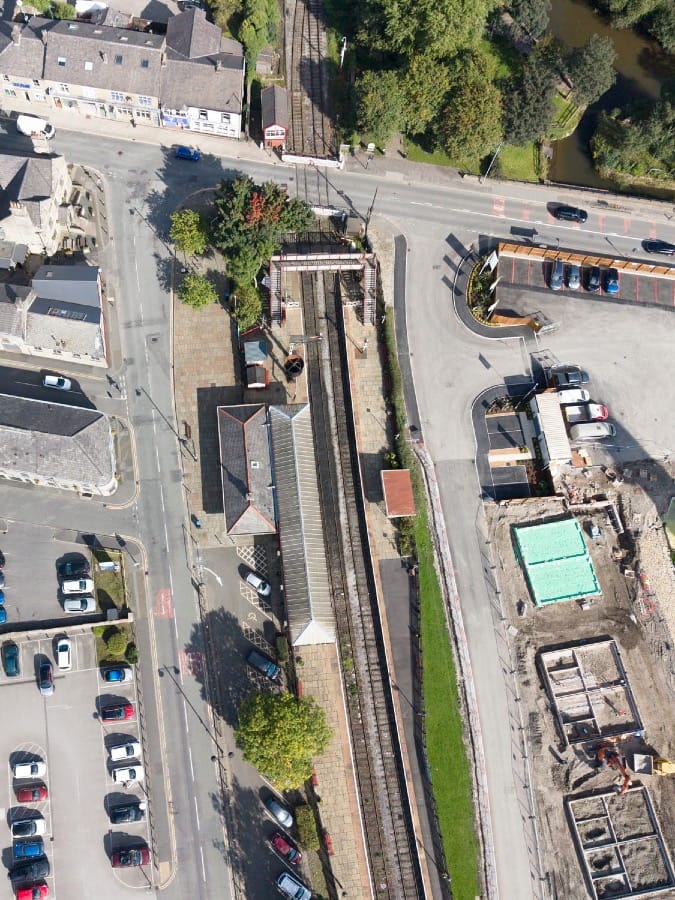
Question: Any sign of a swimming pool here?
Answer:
No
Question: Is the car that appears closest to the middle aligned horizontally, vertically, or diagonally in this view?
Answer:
diagonally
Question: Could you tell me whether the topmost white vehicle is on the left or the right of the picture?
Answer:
left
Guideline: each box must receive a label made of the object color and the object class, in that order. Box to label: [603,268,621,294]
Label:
blue car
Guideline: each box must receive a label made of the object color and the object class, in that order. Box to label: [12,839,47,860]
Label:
blue car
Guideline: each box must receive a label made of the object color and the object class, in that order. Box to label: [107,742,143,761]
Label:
white car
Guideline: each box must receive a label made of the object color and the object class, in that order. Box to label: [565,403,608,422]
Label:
white vehicle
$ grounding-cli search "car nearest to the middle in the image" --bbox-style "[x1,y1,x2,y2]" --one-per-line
[244,569,274,599]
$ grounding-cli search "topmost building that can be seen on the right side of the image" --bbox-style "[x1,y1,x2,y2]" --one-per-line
[526,393,570,469]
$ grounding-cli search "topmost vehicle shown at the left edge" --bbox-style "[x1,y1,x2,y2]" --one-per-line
[16,113,54,138]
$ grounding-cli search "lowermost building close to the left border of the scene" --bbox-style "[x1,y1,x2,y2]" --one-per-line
[0,396,119,505]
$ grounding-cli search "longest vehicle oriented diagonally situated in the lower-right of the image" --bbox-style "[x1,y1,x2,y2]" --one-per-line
[588,740,633,794]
